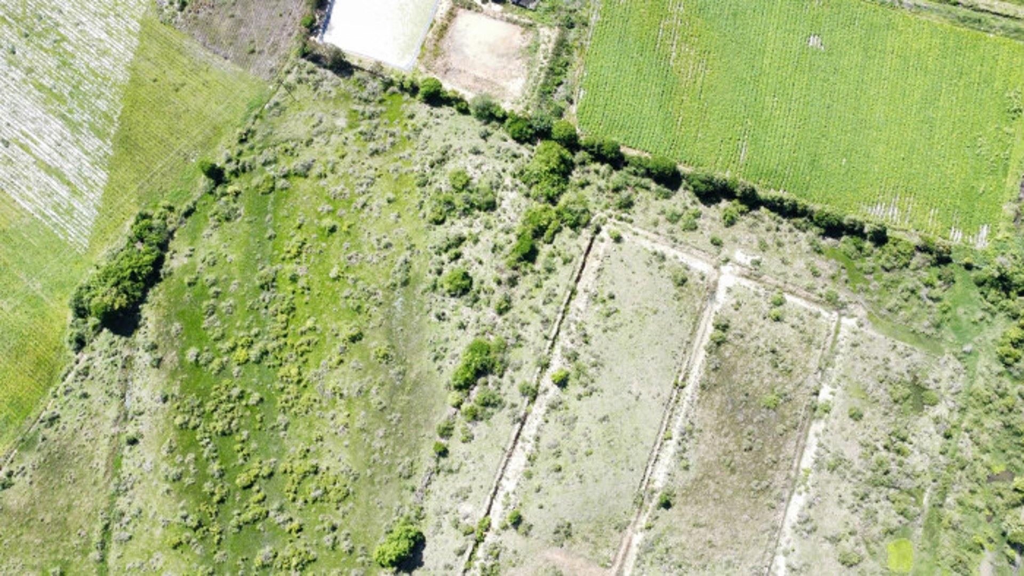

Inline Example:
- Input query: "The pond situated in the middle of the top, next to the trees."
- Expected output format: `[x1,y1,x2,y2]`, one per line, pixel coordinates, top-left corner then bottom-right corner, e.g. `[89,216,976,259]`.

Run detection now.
[424,9,536,109]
